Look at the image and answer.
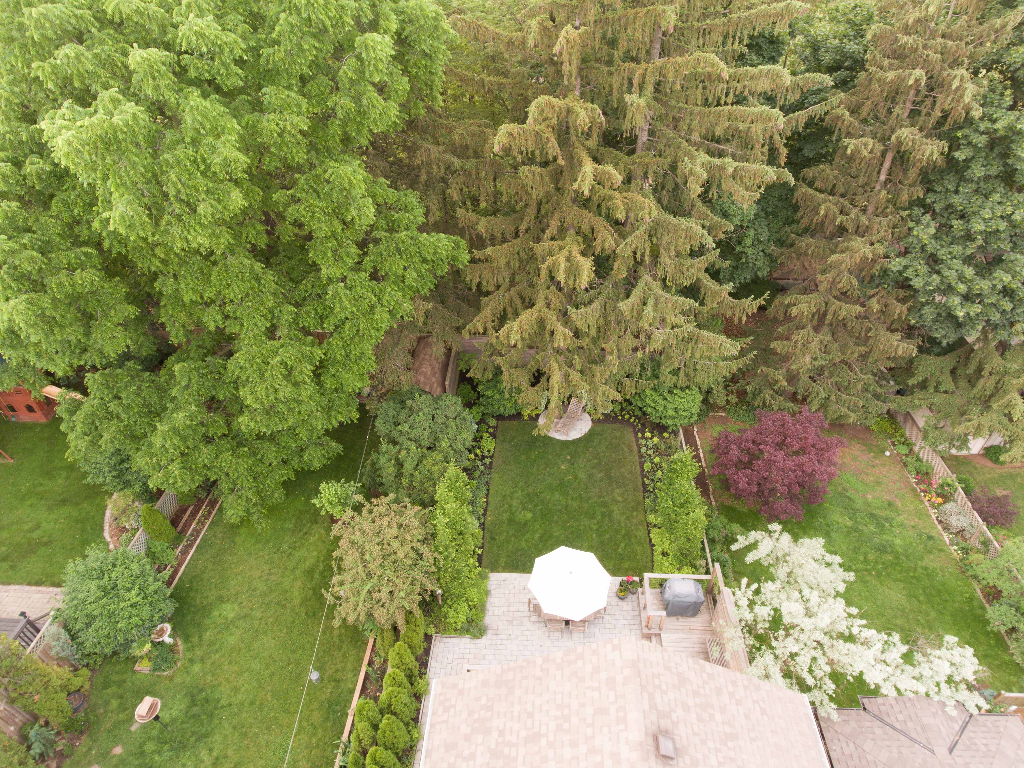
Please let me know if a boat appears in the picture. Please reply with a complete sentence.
No, the picture doesn't show any boat.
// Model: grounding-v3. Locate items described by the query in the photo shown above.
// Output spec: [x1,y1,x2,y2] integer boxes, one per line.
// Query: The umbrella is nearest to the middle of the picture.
[524,546,612,625]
